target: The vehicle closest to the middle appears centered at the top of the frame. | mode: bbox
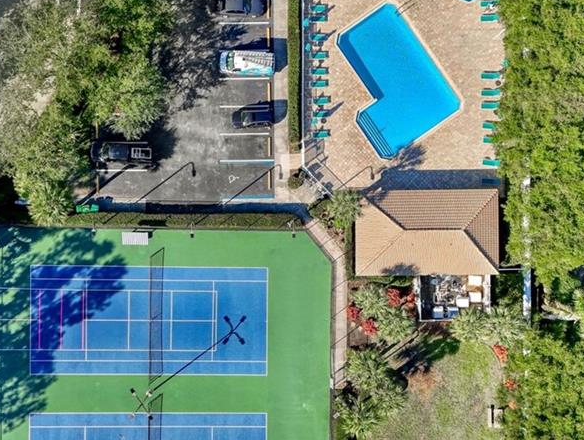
[231,103,275,126]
